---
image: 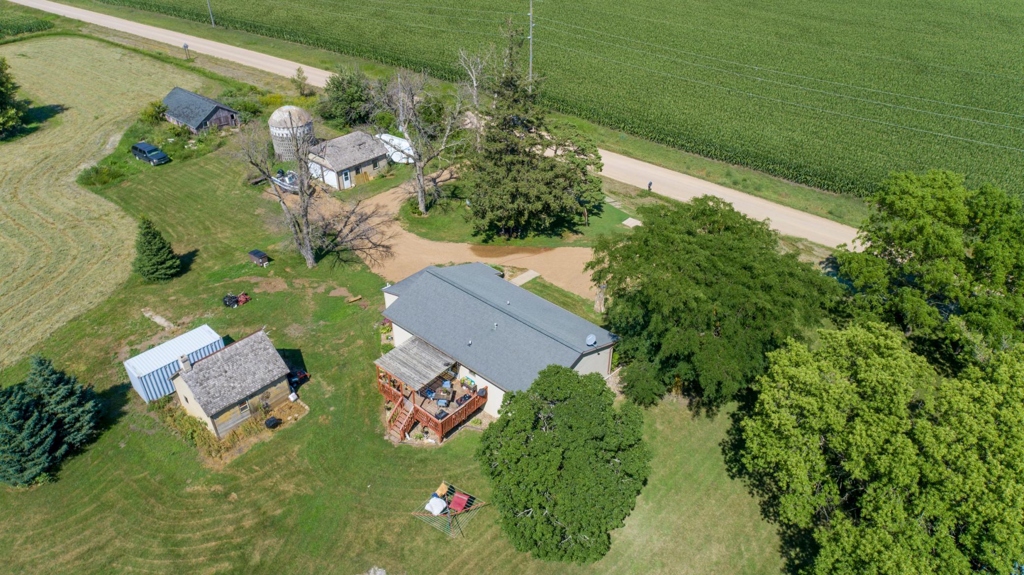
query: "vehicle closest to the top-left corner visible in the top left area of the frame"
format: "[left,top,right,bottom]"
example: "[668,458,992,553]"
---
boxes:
[129,139,171,165]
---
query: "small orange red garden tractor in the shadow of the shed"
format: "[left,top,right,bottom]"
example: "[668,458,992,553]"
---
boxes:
[288,370,307,386]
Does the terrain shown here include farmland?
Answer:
Yes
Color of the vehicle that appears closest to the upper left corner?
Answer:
blue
